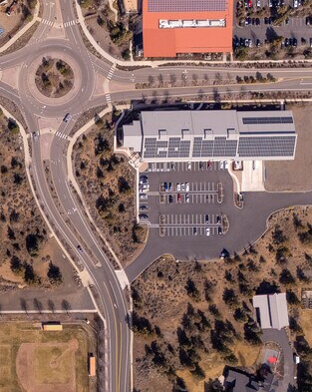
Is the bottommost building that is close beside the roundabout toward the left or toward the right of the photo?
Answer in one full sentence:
The bottommost building that is close beside the roundabout appears in the right half of the scene.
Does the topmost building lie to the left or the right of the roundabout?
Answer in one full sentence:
It is on the right side of the roundabout that the topmost building is positioned.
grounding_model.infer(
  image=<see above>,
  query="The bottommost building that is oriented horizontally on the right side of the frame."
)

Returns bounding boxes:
[224,366,278,392]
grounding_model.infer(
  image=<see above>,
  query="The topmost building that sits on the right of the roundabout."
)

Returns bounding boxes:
[138,0,235,61]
